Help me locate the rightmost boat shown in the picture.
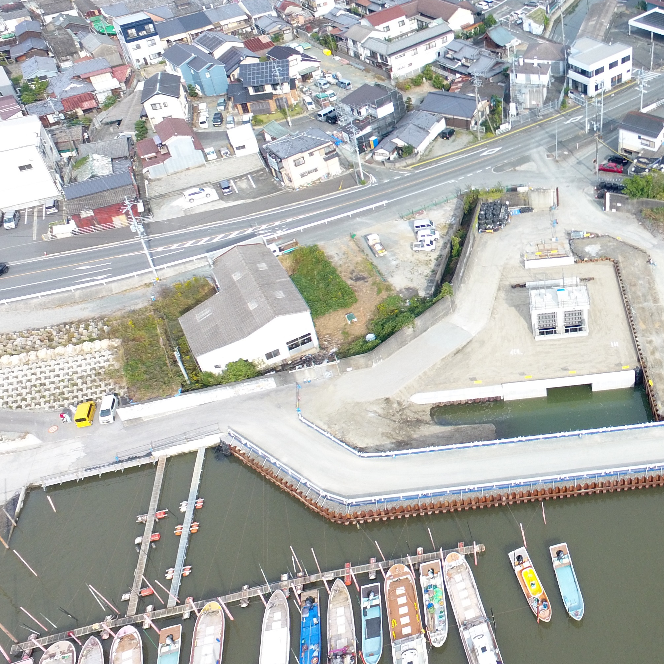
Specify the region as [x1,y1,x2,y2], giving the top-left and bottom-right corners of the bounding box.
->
[550,542,583,624]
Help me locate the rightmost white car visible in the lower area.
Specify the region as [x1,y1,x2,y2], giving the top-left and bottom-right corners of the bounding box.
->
[96,393,121,425]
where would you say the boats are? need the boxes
[383,561,429,664]
[259,588,294,664]
[444,549,501,664]
[37,636,80,664]
[550,542,583,624]
[156,624,183,664]
[422,560,446,651]
[107,622,149,664]
[188,599,230,664]
[299,589,321,664]
[509,548,548,626]
[325,575,361,664]
[361,583,383,664]
[80,633,107,664]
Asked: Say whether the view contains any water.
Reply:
Yes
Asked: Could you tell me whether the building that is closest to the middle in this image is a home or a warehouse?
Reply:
warehouse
